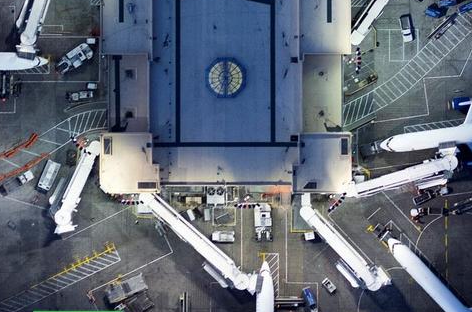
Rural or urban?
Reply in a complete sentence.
From above, the setting appears urban.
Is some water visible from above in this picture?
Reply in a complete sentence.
No, there is no water in the image.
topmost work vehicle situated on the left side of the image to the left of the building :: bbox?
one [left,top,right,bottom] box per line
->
[55,38,94,74]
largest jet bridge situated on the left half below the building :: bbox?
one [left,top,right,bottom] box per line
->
[77,192,263,311]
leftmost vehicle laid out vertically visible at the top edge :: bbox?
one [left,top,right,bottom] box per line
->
[401,14,413,41]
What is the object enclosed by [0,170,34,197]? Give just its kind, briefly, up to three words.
truck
